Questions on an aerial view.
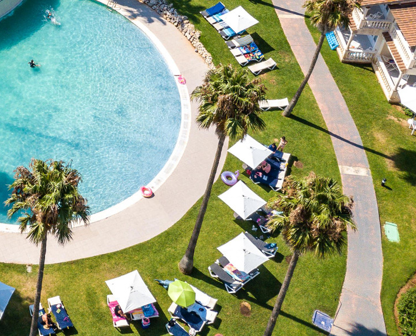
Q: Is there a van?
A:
No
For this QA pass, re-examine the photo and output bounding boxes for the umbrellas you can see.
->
[0,279,17,321]
[218,179,265,225]
[104,267,155,318]
[218,232,267,281]
[164,279,200,313]
[228,135,272,177]
[219,10,257,47]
